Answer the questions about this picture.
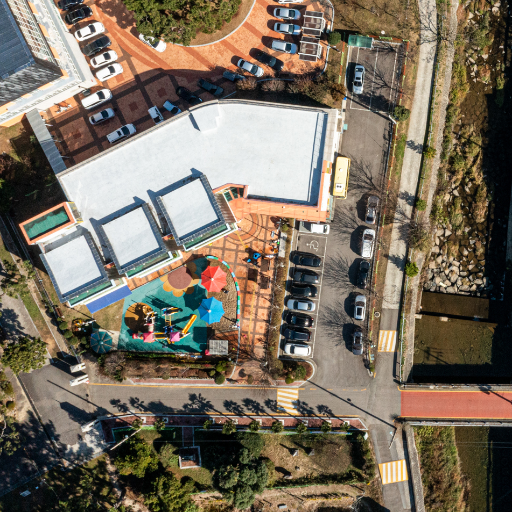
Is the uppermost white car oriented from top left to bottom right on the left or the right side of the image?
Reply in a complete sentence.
The uppermost white car oriented from top left to bottom right sits on the left side.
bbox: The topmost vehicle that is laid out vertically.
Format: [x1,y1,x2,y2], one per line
[351,64,366,94]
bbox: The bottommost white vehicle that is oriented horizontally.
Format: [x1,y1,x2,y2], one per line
[284,343,313,356]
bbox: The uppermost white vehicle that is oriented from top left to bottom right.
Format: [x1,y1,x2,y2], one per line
[137,30,167,54]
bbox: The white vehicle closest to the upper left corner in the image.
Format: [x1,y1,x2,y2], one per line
[75,23,105,41]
